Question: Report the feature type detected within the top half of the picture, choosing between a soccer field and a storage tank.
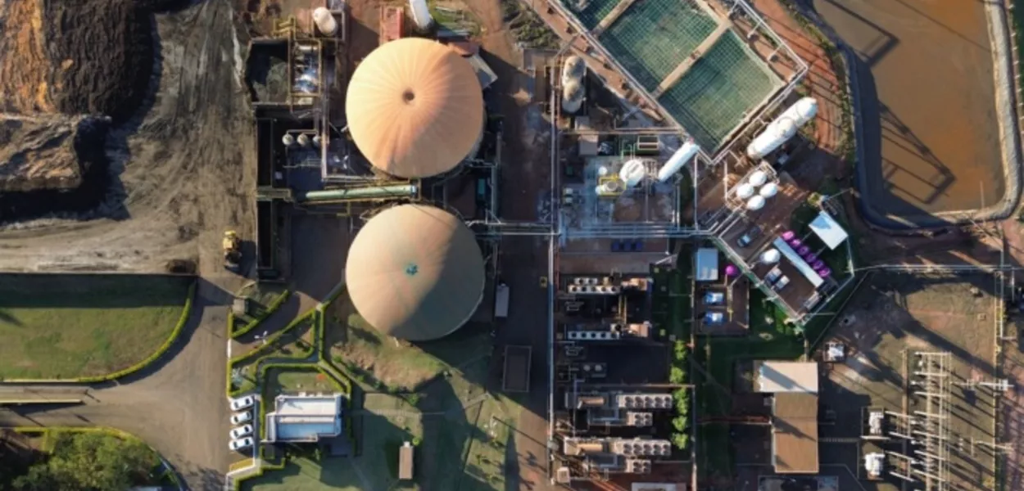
storage tank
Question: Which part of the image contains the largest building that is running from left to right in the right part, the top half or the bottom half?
bottom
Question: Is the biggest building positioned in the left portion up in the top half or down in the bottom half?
bottom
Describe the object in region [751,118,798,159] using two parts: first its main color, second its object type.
white storage tank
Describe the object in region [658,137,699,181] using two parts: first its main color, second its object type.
white storage tank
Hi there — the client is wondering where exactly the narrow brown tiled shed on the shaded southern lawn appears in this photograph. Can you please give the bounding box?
[398,445,414,480]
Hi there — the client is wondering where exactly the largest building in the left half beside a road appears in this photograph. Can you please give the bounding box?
[265,390,347,443]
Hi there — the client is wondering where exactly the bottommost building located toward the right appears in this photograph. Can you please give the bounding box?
[769,392,818,473]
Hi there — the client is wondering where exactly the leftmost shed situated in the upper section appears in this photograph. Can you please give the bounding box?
[326,88,342,126]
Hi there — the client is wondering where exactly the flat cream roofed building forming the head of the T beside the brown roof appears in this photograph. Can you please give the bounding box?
[750,362,819,392]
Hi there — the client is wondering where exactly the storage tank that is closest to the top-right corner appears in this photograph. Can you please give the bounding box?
[770,99,817,130]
